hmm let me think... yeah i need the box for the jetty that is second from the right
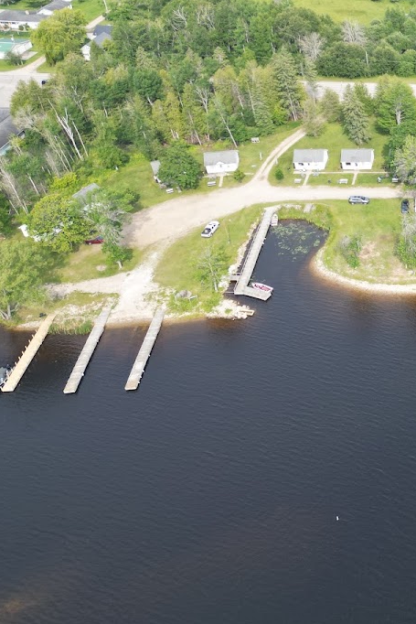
[125,315,165,391]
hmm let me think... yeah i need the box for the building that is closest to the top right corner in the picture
[339,145,378,172]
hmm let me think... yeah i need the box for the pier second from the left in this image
[64,316,109,393]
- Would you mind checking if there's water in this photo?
Yes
